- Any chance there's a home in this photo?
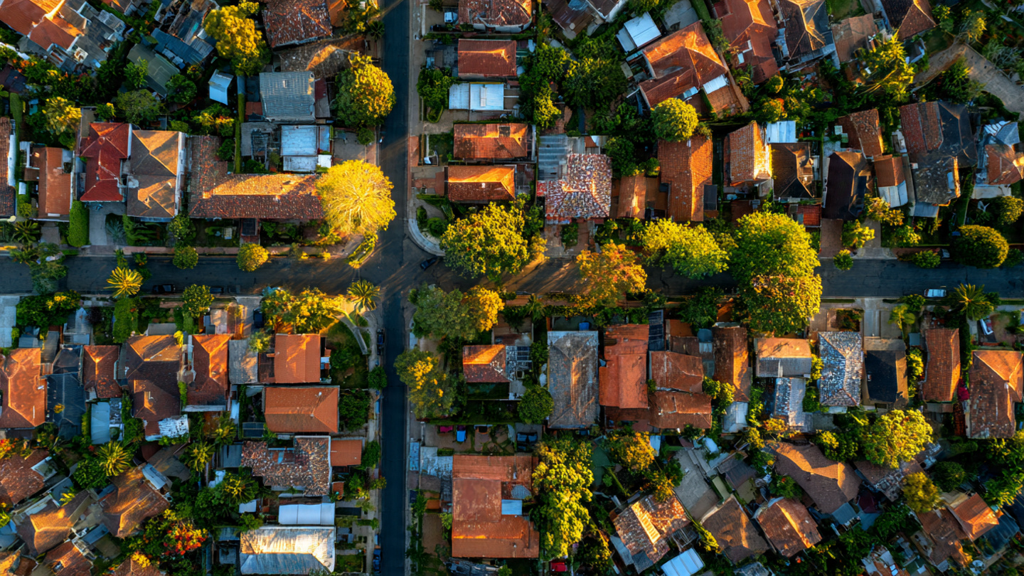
Yes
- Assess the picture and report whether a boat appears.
No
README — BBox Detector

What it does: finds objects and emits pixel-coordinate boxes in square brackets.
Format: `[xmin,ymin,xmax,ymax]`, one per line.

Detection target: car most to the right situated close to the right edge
[976,318,991,337]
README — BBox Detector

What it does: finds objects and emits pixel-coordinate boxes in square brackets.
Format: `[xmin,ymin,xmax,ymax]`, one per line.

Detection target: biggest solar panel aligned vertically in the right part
[650,310,664,351]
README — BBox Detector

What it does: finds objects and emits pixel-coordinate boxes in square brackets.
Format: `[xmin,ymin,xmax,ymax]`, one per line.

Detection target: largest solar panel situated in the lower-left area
[243,424,263,438]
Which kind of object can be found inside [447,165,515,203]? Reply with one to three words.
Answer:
house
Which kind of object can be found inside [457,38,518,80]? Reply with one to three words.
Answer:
house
